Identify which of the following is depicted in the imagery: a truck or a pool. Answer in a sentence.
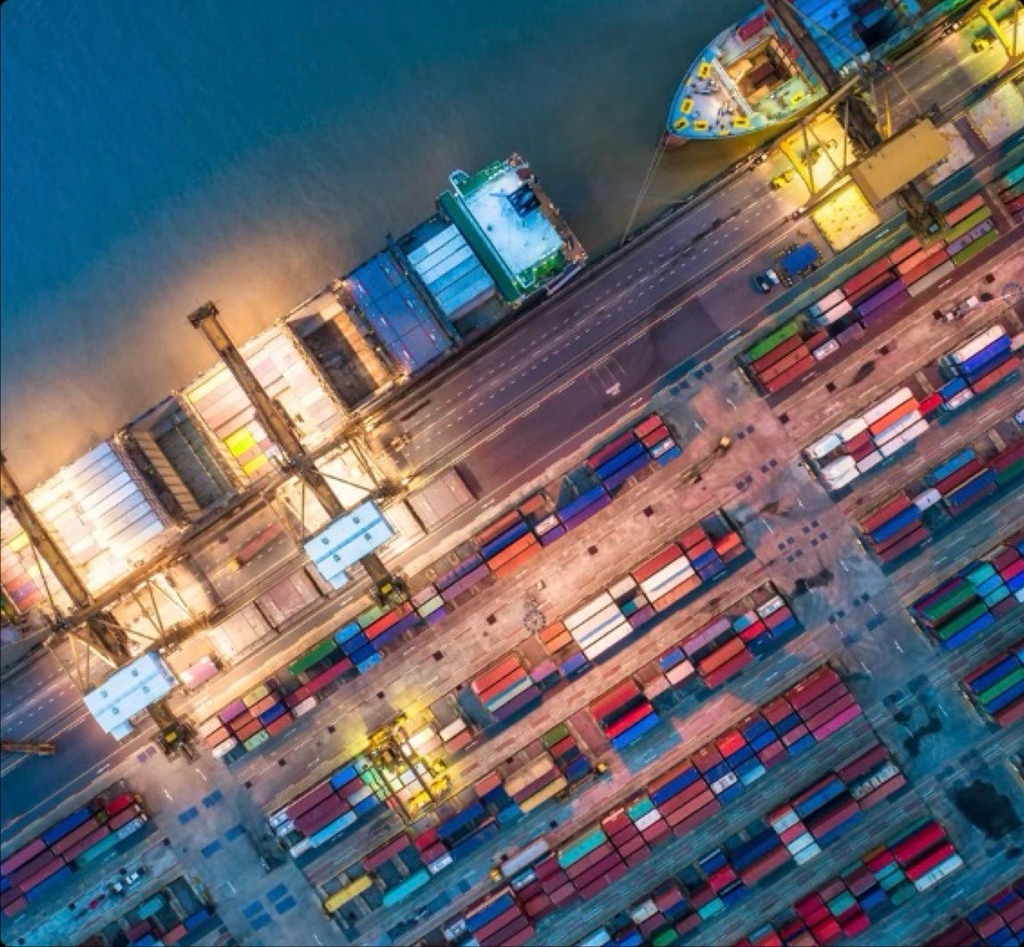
I can see a truck in this picture.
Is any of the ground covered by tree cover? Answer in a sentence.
No, the picture contains no tree cover.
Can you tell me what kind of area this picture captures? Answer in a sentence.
The area seen from above is a port.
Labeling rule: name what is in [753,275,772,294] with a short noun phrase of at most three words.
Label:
car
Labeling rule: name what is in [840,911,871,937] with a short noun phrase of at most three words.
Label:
shipping container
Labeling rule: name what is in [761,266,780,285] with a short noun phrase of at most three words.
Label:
car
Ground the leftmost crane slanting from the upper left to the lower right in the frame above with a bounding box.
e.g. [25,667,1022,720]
[0,461,223,765]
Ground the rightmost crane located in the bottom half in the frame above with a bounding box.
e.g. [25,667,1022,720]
[357,697,463,830]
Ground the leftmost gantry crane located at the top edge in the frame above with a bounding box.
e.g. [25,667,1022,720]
[749,0,961,247]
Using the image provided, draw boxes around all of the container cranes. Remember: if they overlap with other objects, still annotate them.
[944,0,1024,89]
[357,697,463,830]
[179,299,414,620]
[0,461,223,765]
[749,0,961,247]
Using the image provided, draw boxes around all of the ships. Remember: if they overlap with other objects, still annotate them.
[0,161,584,663]
[664,0,976,150]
